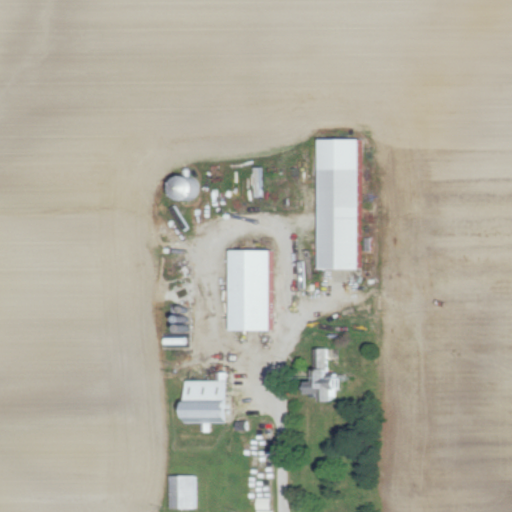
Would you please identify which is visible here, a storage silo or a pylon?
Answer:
storage silo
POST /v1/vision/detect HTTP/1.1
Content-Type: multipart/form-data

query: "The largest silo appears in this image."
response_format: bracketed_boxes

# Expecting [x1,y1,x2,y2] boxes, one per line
[165,174,200,202]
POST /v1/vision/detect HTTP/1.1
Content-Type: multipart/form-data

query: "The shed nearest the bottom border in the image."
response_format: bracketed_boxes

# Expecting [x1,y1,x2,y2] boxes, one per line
[169,476,200,510]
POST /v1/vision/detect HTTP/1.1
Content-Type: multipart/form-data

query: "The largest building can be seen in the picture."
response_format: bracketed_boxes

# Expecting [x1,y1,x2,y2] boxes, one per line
[316,138,362,270]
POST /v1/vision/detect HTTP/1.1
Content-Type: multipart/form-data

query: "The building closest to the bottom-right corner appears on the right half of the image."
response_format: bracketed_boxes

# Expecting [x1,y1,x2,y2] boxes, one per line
[300,348,342,402]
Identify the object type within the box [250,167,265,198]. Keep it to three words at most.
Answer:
shed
